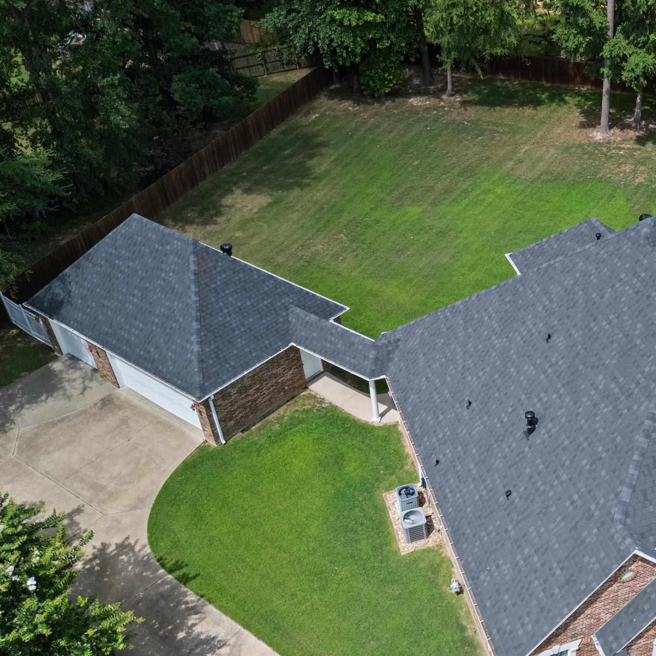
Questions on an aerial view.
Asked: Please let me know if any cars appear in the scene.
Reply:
No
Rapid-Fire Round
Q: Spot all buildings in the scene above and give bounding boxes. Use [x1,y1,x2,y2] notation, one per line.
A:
[23,214,351,446]
[370,211,656,656]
